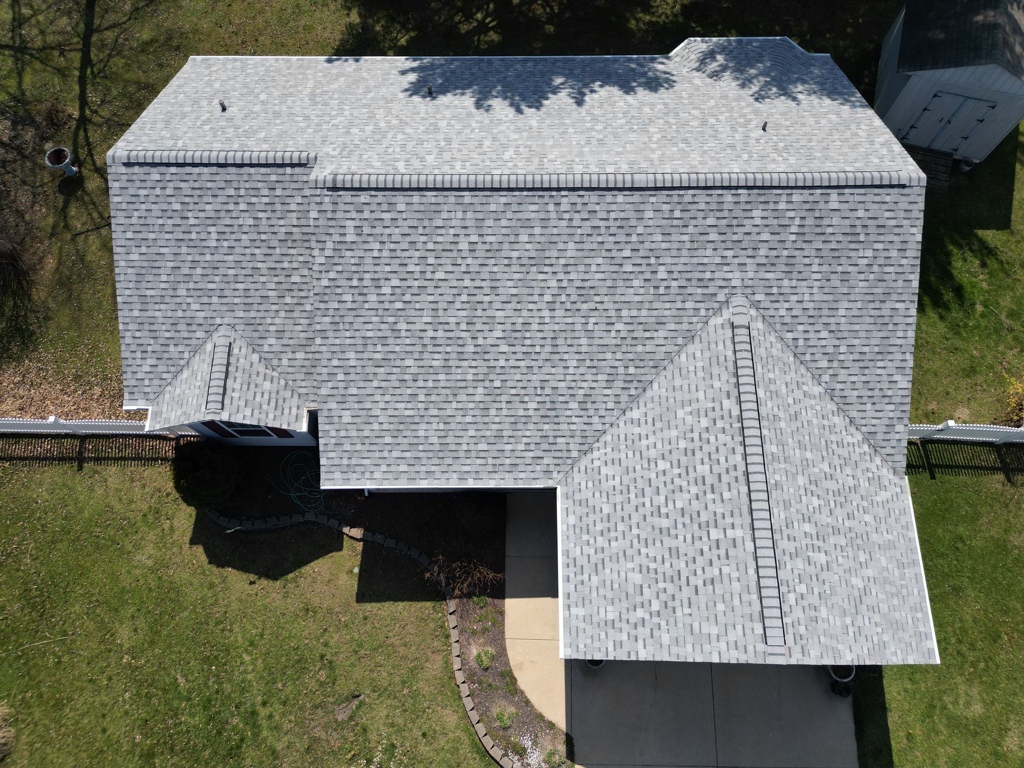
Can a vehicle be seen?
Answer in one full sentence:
No, I can see no vehicle in this picture.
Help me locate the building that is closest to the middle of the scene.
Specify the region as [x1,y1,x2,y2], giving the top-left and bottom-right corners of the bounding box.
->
[107,34,940,665]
